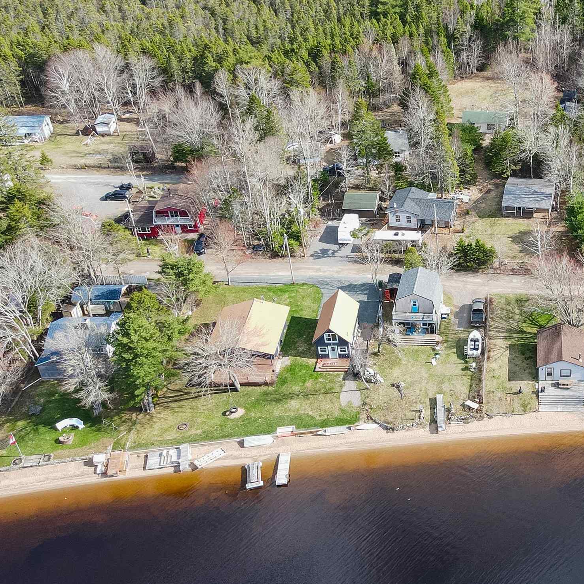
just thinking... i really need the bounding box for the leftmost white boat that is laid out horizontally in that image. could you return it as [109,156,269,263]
[243,434,281,447]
